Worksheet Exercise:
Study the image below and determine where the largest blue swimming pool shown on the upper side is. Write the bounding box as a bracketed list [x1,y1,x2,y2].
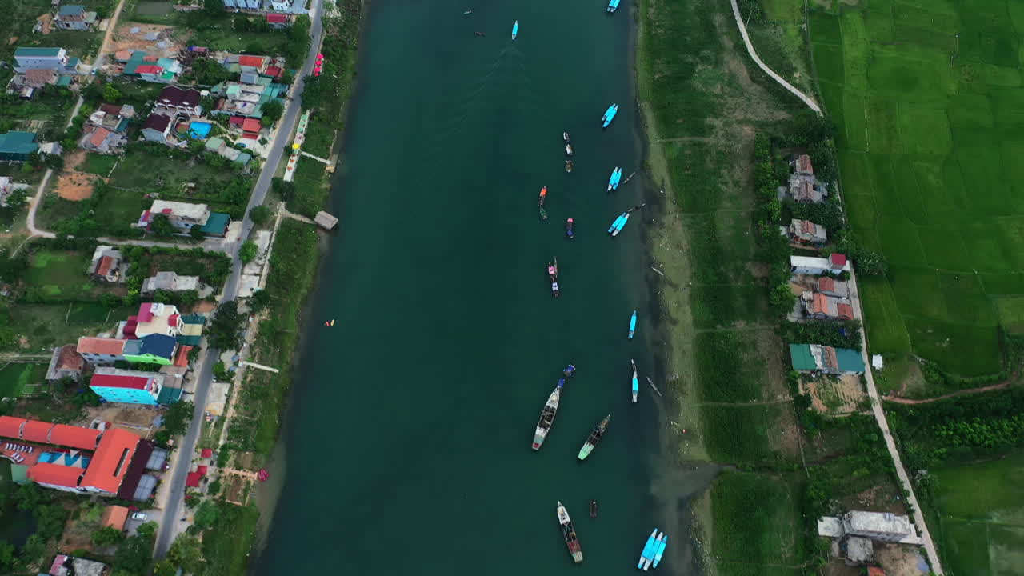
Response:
[188,121,213,140]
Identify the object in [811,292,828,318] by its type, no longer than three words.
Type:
house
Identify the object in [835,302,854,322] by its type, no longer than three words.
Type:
shed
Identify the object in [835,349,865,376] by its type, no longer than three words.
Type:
barn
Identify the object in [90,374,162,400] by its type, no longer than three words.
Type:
building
